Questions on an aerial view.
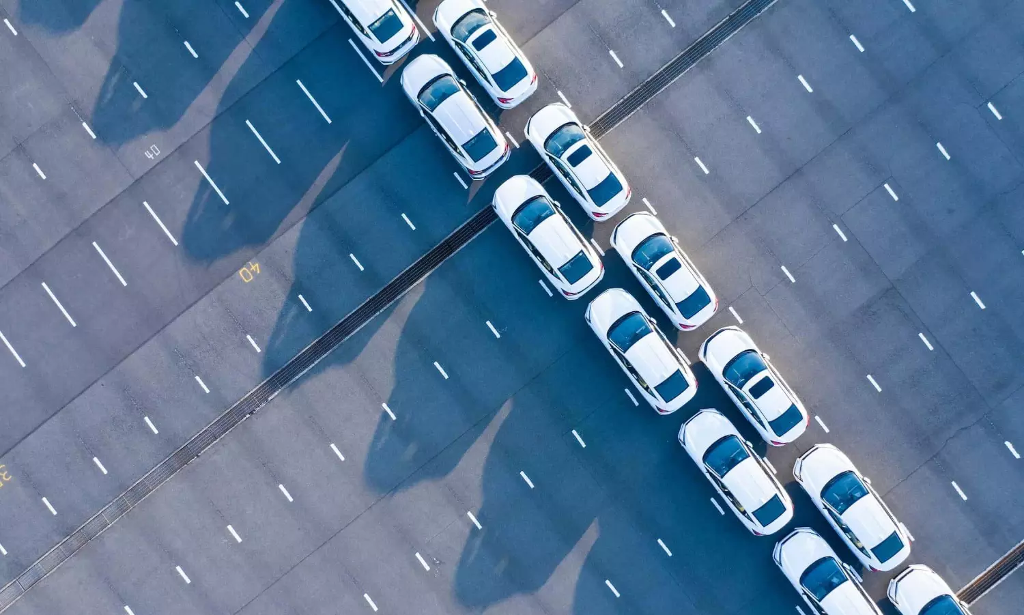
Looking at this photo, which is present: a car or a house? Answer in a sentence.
Of the two, only a car appears.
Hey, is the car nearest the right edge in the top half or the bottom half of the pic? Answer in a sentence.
It is in the bottom half that the car nearest the right edge appears.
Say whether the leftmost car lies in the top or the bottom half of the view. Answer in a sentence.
You can find the leftmost car in the top half.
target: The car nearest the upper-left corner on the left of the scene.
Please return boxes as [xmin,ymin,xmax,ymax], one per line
[330,0,419,63]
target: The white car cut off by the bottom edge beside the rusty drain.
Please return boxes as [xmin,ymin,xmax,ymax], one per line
[889,566,973,615]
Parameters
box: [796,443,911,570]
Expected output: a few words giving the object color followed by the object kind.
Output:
white car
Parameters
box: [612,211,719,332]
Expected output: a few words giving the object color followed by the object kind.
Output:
white car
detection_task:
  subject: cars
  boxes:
[493,176,603,298]
[527,102,633,223]
[401,56,511,179]
[612,211,719,332]
[796,443,911,570]
[889,566,973,615]
[431,0,538,109]
[586,289,698,413]
[330,0,419,63]
[684,409,796,535]
[701,326,810,447]
[774,528,883,615]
